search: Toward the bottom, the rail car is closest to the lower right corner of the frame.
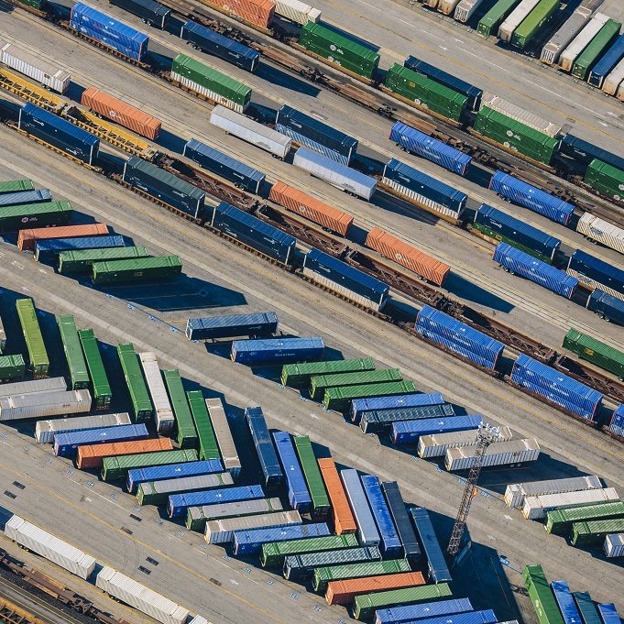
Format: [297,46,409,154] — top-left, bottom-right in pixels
[599,422,624,449]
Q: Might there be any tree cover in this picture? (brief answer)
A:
No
